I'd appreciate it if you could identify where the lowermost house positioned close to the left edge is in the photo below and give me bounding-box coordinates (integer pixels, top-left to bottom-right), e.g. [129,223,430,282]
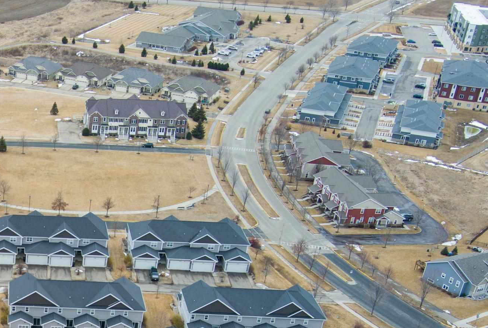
[4,270,146,328]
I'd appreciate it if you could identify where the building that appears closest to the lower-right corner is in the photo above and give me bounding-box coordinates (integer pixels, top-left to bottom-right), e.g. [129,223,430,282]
[424,250,488,307]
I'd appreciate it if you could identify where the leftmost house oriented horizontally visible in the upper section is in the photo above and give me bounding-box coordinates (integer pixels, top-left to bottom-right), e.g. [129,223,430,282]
[7,58,63,81]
